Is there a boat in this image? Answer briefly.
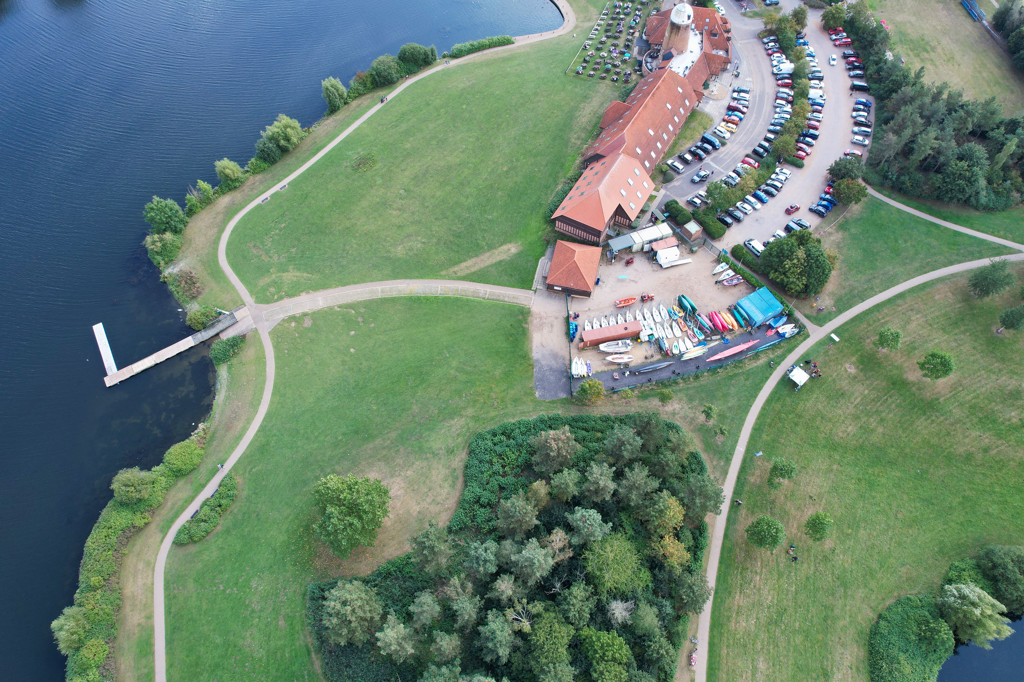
Yes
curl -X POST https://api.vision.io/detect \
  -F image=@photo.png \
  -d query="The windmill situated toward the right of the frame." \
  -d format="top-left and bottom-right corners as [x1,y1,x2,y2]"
[658,0,694,65]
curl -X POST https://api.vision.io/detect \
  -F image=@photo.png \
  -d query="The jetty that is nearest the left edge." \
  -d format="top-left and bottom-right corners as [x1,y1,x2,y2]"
[93,323,118,375]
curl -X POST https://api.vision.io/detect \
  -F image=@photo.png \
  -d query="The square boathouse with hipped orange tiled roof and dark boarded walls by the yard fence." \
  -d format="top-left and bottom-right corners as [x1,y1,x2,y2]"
[546,239,602,299]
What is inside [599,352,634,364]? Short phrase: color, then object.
white boat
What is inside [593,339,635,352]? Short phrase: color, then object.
white boat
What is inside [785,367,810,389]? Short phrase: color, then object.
white gazebo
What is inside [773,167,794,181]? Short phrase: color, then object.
white car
